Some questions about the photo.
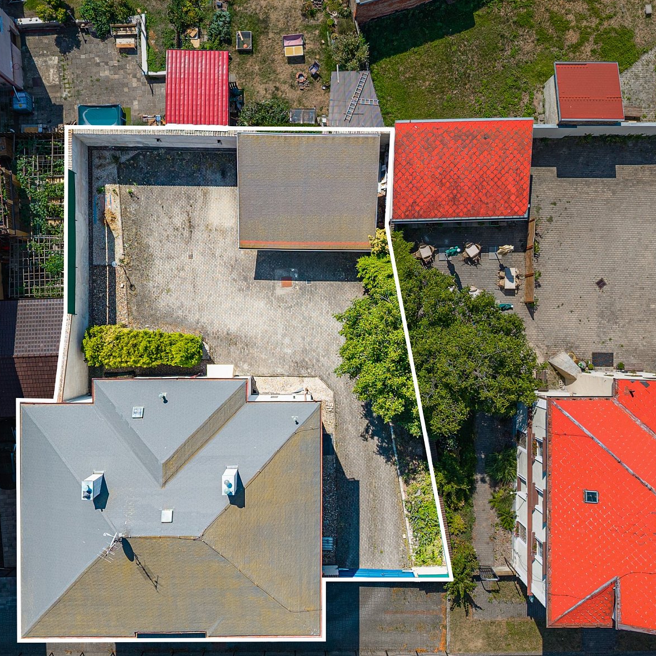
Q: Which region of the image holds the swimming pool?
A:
top left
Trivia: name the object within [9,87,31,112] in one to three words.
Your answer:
water tank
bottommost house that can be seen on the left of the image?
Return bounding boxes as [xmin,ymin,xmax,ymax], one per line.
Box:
[20,369,332,640]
